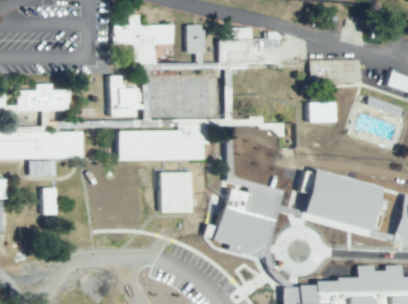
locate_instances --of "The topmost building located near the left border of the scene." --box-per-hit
[0,83,84,160]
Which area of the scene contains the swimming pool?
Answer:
right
